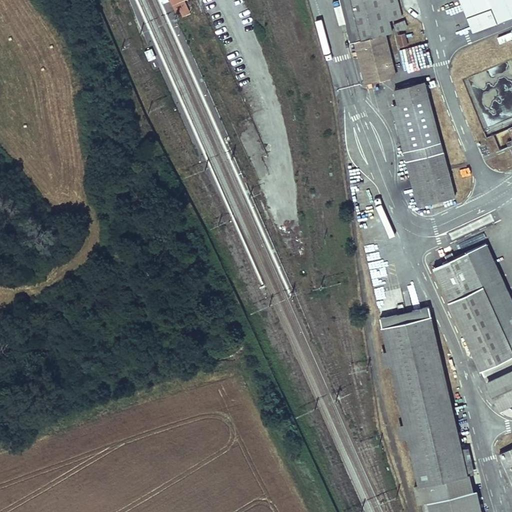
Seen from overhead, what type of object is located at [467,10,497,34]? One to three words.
building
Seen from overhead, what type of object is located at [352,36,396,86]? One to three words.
shed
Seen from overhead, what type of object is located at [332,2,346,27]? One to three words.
vehicle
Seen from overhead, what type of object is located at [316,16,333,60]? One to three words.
vehicle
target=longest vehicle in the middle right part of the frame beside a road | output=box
[374,198,396,240]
